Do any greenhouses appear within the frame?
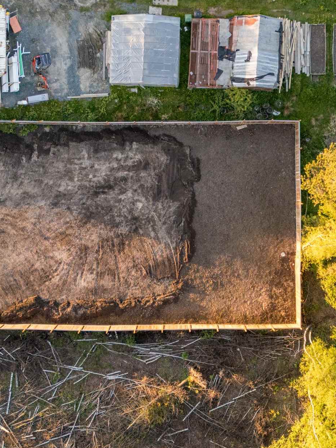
Yes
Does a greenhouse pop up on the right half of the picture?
Yes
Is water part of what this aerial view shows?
No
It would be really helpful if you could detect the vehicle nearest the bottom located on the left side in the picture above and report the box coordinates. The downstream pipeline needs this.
[34,50,58,89]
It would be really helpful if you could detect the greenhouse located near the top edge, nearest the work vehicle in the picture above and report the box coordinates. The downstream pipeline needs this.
[101,13,179,90]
